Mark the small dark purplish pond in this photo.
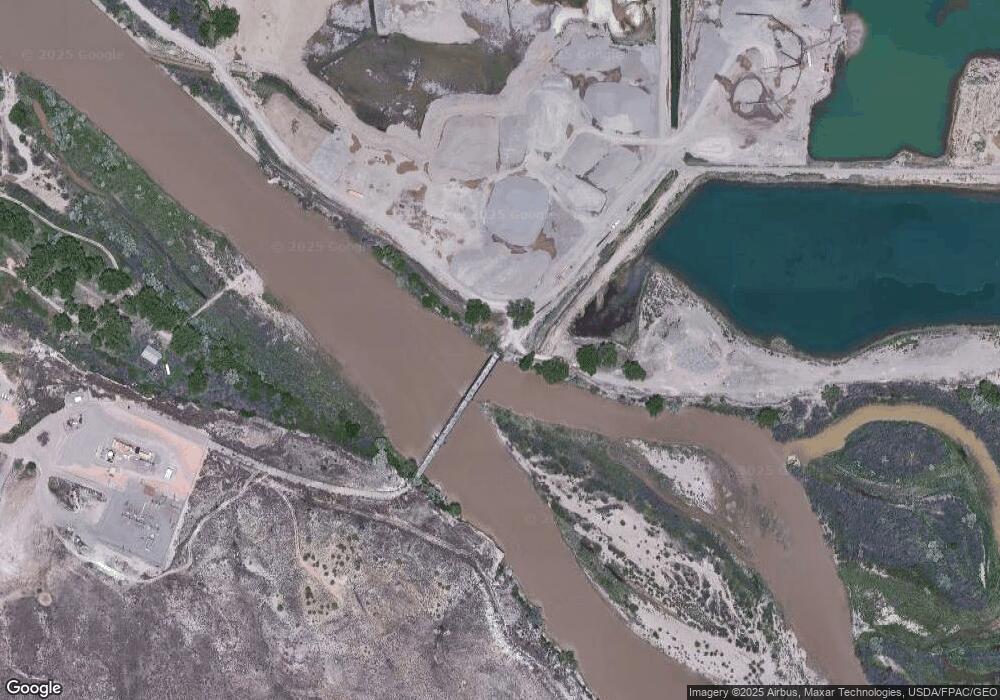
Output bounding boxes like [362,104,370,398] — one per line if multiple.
[572,260,648,337]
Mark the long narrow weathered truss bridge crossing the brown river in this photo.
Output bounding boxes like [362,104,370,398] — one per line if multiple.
[412,350,503,484]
